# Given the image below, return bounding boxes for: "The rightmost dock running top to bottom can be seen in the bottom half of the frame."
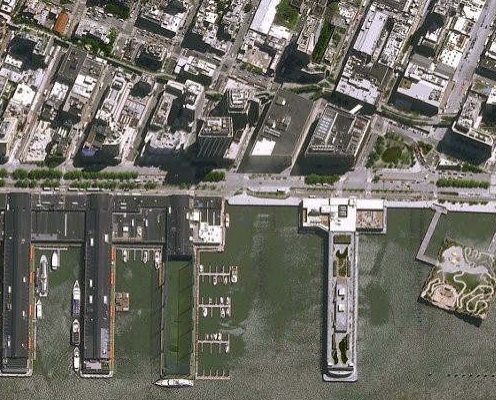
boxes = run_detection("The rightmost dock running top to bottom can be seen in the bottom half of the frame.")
[298,199,387,383]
